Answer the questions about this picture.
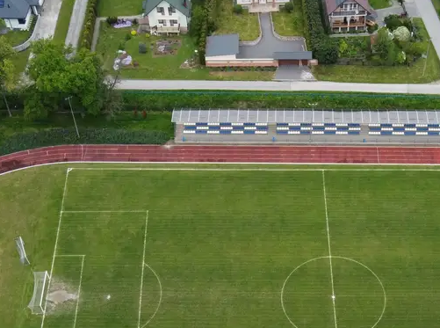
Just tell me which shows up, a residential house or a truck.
residential house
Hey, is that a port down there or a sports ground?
sports ground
